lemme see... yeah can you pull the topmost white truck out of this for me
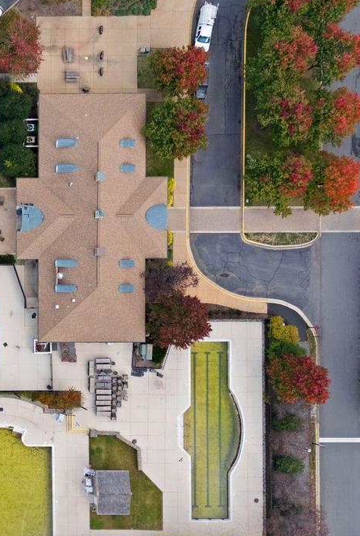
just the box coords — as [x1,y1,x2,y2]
[193,0,219,53]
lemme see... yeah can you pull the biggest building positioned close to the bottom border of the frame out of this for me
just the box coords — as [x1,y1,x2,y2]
[87,469,132,514]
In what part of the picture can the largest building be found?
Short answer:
left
